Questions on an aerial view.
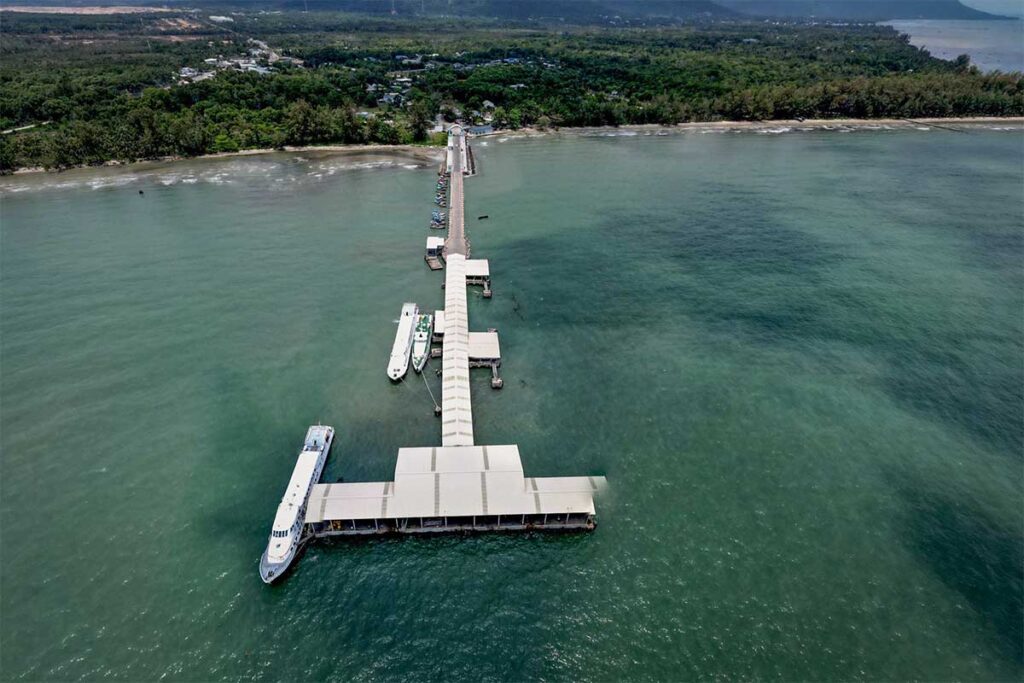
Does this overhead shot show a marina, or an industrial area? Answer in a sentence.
This image shows a marina.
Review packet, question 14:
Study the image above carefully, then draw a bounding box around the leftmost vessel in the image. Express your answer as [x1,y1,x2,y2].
[261,417,336,581]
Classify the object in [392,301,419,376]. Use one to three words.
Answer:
vessel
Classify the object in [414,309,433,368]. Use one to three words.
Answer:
vessel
